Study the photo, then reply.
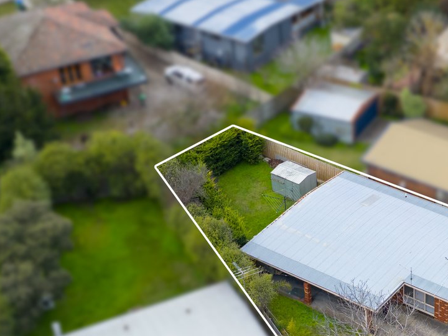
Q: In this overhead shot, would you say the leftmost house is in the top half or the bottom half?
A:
top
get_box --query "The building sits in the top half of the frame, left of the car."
[0,0,149,117]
